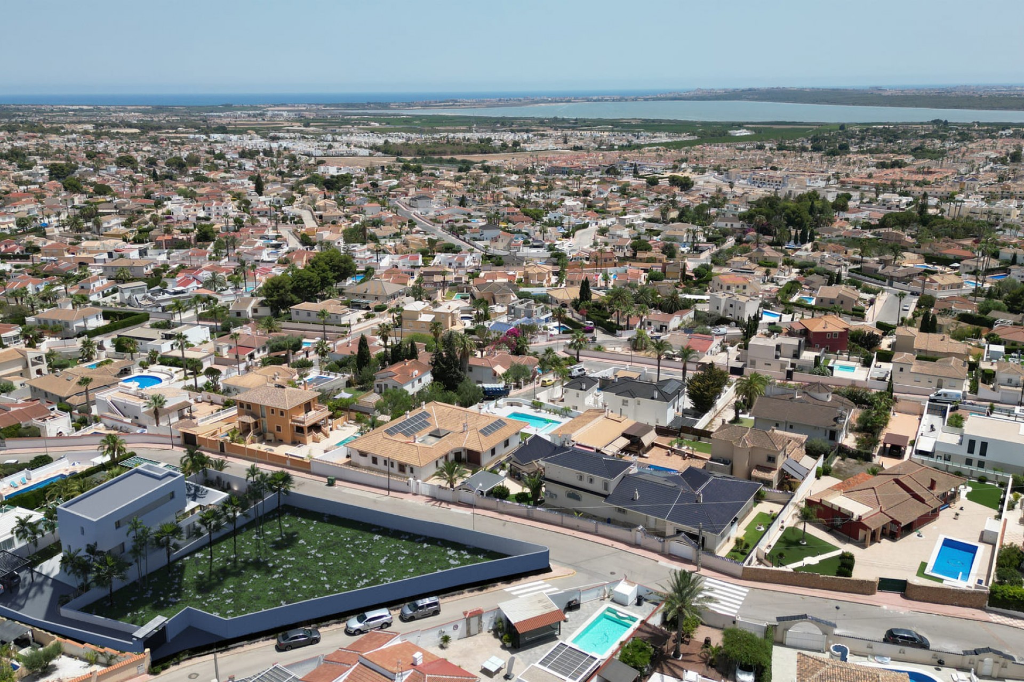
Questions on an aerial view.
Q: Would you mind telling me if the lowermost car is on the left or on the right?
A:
right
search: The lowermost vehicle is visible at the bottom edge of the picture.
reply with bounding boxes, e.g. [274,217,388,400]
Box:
[734,656,758,682]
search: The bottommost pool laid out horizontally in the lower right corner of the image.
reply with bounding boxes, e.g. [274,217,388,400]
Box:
[865,662,950,682]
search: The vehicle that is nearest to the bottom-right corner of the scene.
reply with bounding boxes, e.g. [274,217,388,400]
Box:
[884,623,930,648]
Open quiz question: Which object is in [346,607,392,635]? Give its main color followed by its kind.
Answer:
gray car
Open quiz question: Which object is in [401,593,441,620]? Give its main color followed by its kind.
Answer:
gray car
